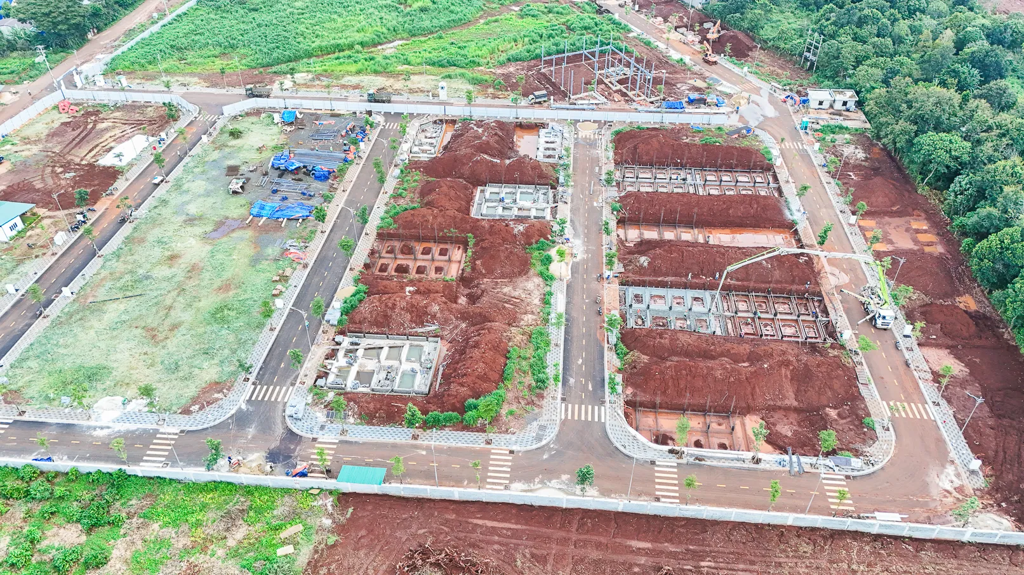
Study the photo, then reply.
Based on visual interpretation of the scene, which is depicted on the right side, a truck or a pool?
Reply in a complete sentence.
What appears on the right side is a truck.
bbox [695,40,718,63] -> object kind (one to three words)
work vehicle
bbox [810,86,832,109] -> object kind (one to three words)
shed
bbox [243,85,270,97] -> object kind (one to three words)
vehicle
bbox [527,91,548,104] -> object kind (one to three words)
vehicle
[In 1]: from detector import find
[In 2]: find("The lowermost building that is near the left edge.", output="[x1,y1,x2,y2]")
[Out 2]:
[0,197,42,241]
